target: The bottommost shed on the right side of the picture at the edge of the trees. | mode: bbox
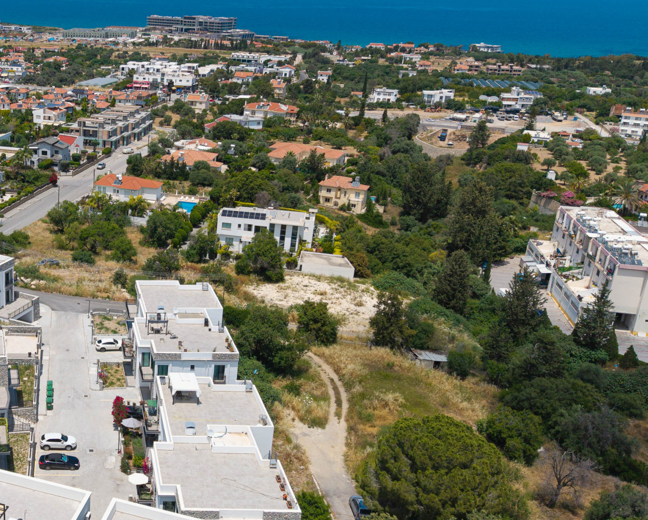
[410,348,448,373]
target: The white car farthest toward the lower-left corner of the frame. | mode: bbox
[40,432,77,450]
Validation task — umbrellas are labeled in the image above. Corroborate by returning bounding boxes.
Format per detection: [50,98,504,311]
[120,418,143,435]
[126,474,147,494]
